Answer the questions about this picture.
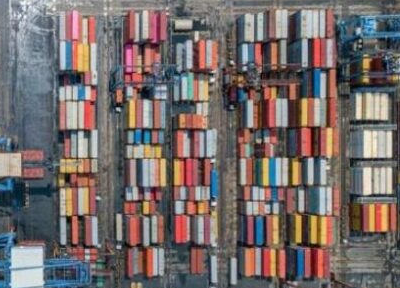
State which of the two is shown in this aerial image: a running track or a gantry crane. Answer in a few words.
gantry crane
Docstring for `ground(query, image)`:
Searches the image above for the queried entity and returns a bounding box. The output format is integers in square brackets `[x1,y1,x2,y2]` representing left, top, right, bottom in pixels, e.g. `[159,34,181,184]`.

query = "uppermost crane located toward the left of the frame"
[104,62,185,95]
